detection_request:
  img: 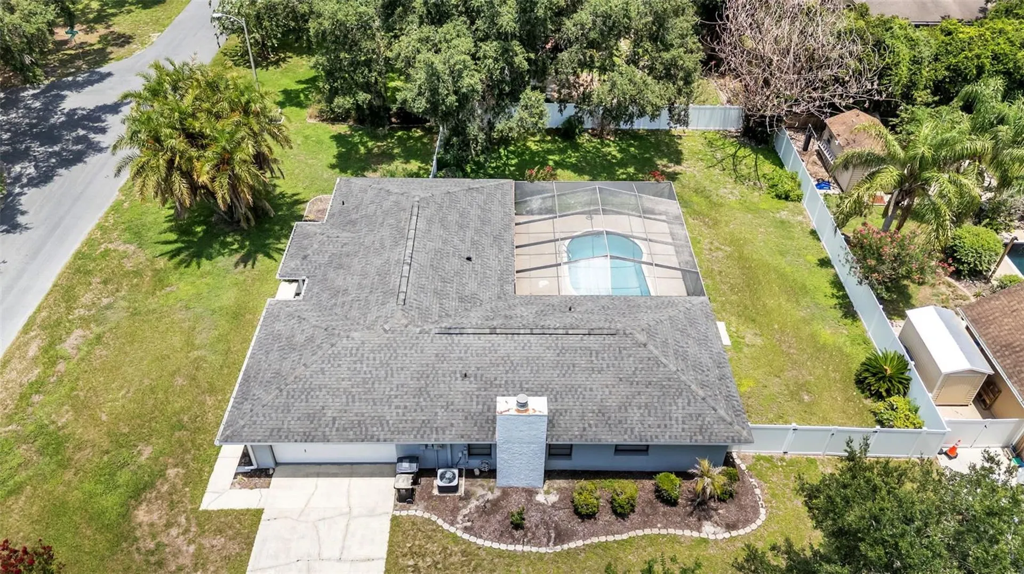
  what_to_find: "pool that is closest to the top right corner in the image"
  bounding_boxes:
[975,225,1024,287]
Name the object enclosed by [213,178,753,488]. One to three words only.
house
